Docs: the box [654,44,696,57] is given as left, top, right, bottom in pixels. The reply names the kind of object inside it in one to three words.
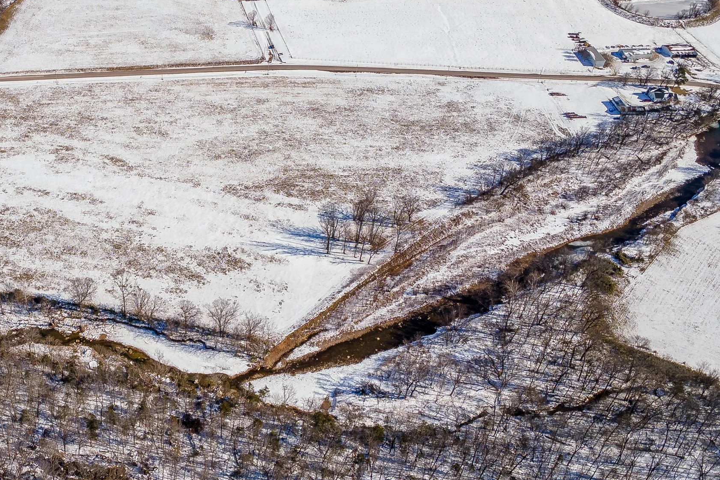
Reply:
shed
